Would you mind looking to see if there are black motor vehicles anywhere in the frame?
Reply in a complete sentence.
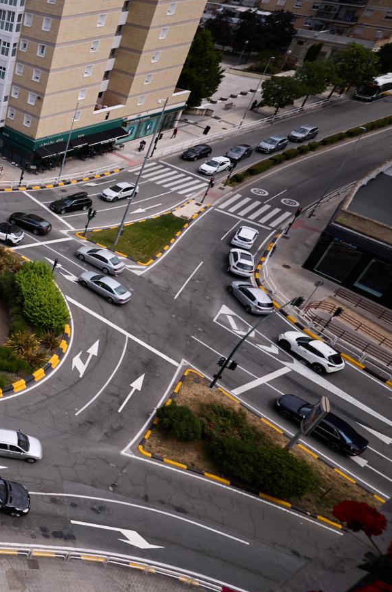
Yes, this view includes a black motor vehicle.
